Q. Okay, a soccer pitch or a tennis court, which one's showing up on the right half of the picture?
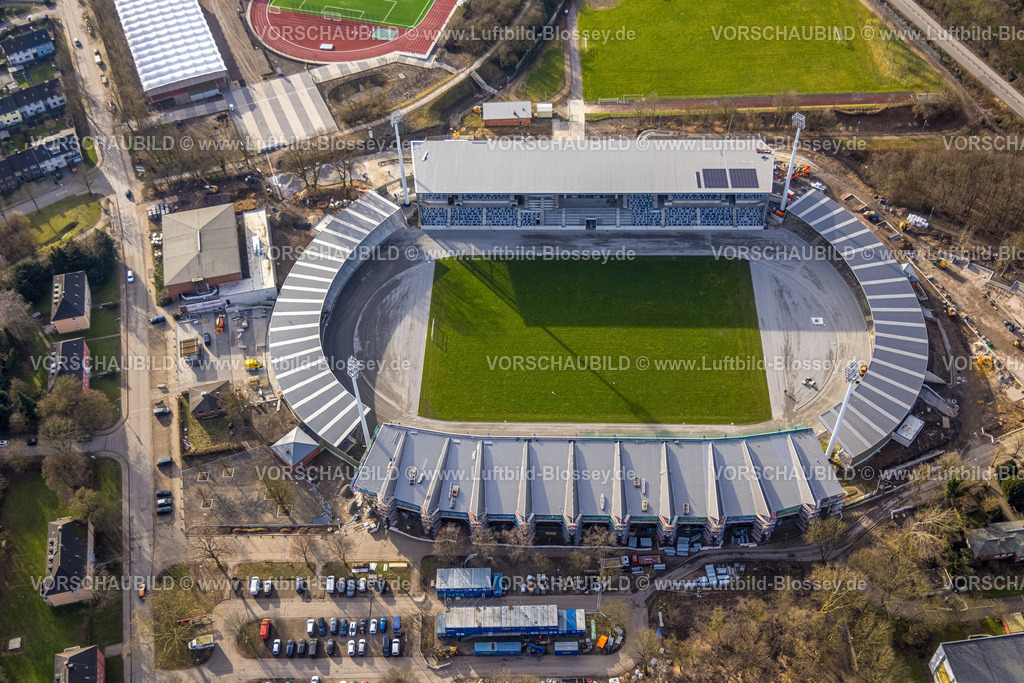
soccer pitch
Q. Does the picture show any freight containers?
Yes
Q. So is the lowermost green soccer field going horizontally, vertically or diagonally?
horizontally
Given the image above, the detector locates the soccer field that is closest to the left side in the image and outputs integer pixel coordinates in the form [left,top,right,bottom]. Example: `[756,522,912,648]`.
[273,0,431,27]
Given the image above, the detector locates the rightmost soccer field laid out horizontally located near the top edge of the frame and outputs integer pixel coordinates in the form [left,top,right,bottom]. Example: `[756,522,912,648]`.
[579,0,943,102]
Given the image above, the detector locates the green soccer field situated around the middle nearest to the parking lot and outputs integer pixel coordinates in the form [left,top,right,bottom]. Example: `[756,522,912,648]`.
[419,257,772,423]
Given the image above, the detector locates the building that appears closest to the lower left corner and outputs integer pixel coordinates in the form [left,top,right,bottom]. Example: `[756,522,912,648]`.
[53,640,102,683]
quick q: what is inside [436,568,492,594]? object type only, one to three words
shipping container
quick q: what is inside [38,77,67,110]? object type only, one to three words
house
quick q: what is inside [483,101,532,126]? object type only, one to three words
shed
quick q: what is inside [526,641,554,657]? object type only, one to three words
work vehicle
